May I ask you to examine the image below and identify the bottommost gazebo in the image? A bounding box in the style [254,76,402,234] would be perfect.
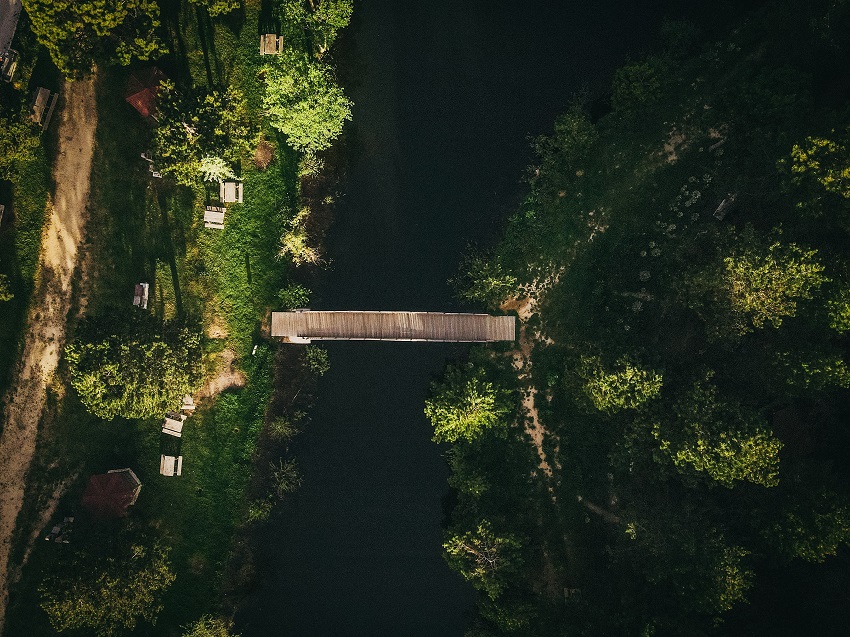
[82,463,149,519]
